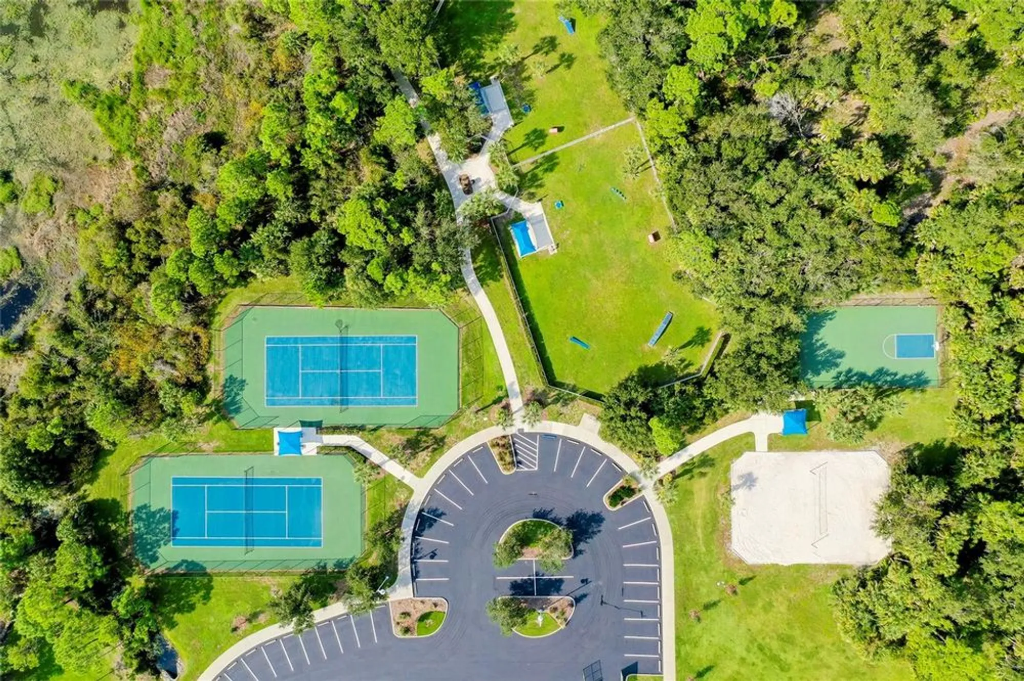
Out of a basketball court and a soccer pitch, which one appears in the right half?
basketball court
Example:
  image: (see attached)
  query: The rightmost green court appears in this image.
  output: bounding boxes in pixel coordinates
[797,306,939,388]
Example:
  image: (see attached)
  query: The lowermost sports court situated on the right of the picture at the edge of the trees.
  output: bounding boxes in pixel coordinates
[730,450,891,566]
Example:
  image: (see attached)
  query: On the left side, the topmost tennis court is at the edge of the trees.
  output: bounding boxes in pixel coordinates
[224,307,458,428]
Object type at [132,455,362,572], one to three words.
tennis court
